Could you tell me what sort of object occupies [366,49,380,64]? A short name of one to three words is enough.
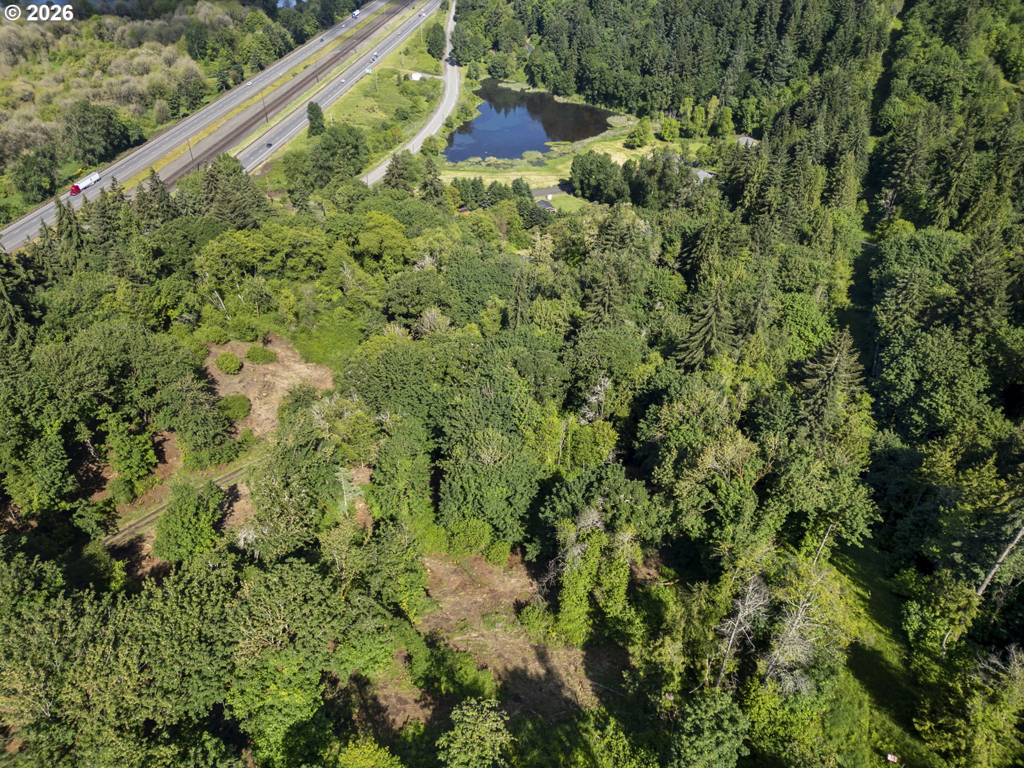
vehicle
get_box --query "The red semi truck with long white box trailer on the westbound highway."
[66,166,104,195]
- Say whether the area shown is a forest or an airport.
forest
